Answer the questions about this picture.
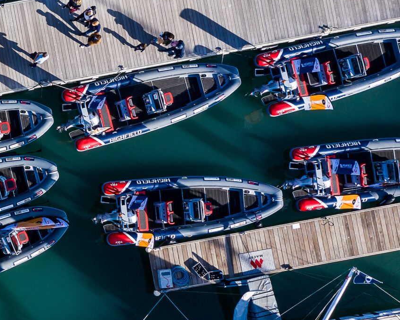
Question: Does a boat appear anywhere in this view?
Yes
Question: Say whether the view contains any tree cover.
No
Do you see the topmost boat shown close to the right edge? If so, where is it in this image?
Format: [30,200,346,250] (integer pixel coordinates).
[249,29,400,114]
